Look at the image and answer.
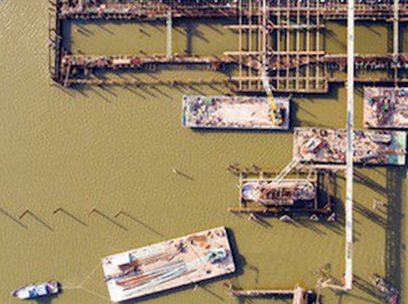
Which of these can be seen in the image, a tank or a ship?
ship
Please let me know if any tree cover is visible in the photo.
No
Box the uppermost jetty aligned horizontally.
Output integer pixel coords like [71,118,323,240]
[229,165,337,218]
